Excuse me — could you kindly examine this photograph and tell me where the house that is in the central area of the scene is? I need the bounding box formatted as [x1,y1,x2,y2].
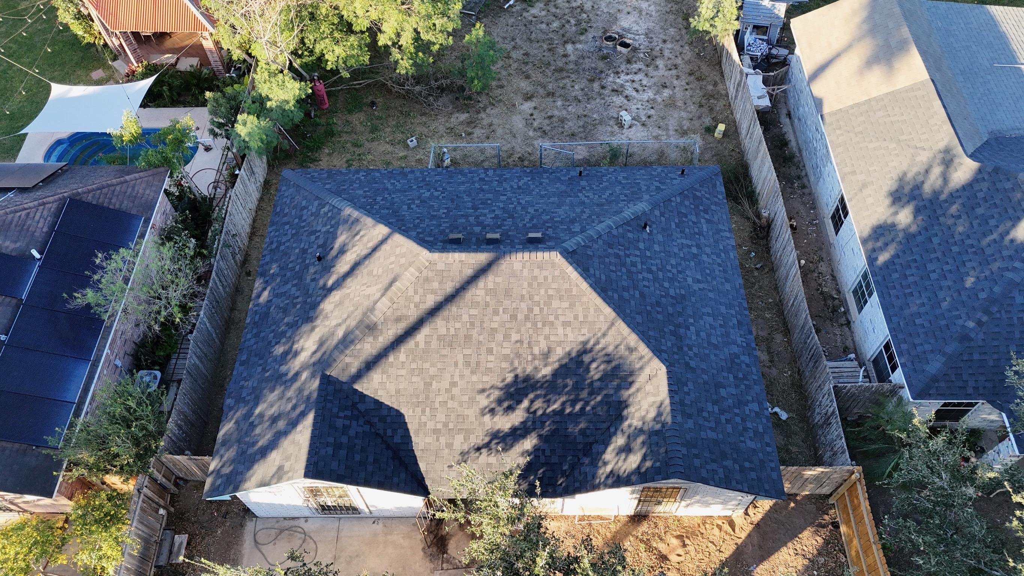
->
[204,164,789,521]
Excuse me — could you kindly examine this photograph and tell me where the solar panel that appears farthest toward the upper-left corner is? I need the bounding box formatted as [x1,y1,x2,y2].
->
[0,163,67,188]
